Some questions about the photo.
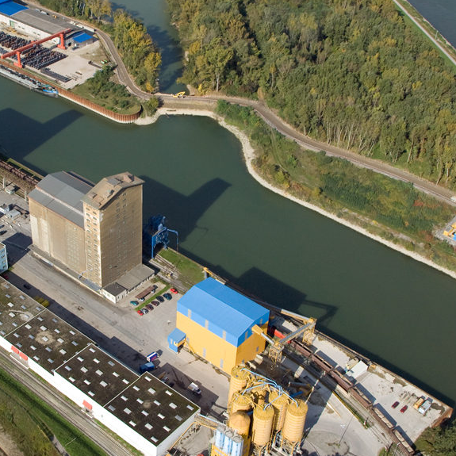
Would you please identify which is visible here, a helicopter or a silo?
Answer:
silo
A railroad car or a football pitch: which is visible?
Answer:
railroad car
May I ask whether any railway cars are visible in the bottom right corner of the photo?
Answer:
Yes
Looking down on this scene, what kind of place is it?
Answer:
port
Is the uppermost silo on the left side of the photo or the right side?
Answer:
left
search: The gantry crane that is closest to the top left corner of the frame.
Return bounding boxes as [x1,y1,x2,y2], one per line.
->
[0,28,67,69]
